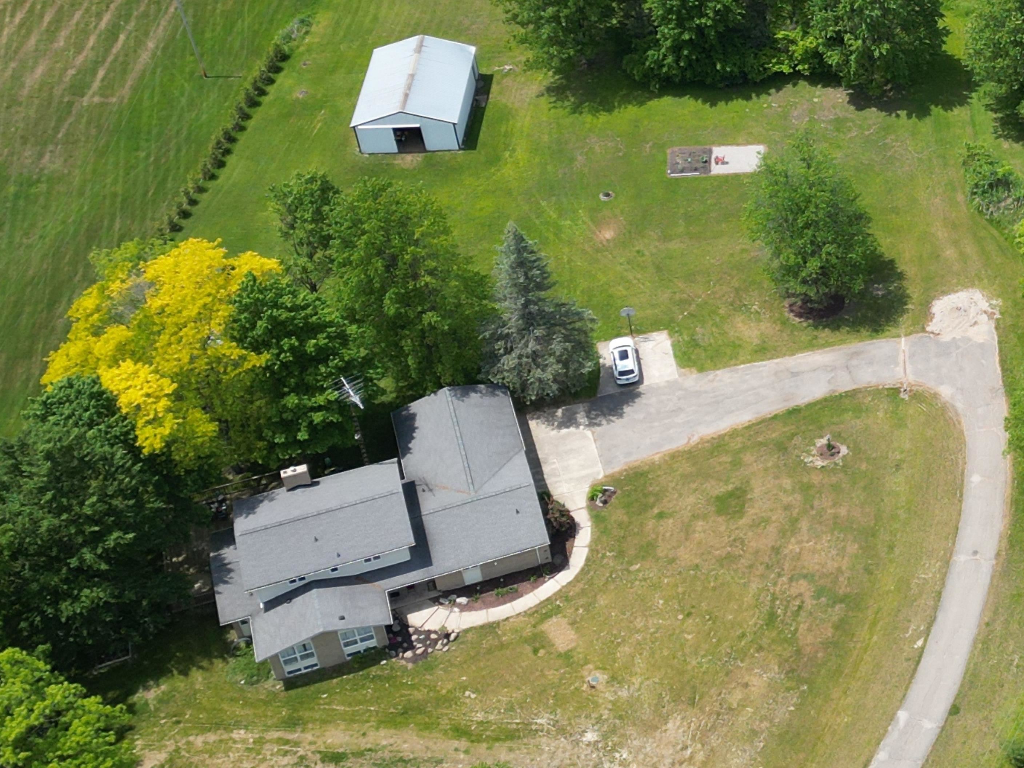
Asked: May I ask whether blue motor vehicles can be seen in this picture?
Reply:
No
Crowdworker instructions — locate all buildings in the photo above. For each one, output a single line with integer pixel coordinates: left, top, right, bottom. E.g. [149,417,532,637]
[210,384,550,678]
[350,35,476,153]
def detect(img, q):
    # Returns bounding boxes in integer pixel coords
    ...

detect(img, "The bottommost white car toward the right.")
[608,334,641,383]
